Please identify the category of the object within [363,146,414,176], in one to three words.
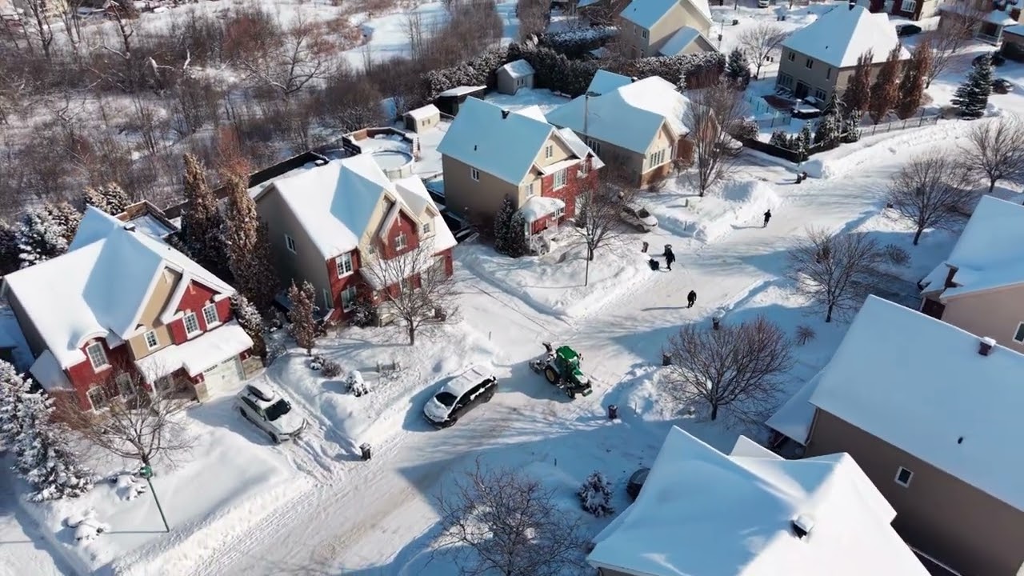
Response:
swimming pool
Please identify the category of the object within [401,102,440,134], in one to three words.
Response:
shed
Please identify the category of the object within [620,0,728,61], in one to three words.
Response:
house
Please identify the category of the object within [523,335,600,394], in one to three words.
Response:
work vehicle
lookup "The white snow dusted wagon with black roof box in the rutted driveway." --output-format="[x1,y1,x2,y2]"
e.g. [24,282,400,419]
[239,382,302,440]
